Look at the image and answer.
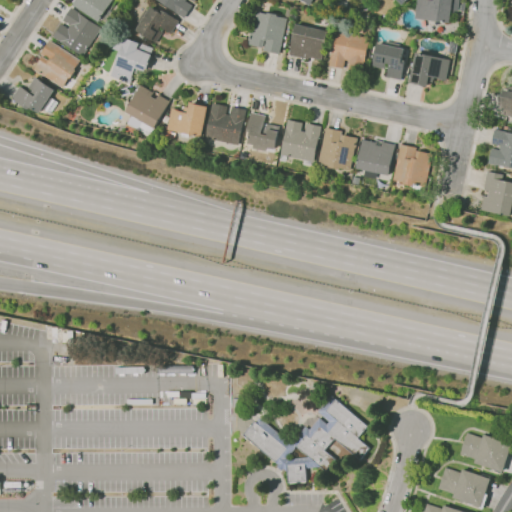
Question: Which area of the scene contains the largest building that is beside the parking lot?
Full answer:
Look in the bottom portion of the view to spot the largest building that is beside the parking lot.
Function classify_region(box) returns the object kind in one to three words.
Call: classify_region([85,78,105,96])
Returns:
swimming pool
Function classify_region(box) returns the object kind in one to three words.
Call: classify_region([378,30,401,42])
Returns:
swimming pool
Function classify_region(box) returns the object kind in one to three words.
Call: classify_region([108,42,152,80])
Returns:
house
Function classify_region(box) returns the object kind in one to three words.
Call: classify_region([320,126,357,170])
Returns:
house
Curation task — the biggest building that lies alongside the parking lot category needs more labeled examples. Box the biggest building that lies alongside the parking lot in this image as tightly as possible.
[244,400,370,485]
